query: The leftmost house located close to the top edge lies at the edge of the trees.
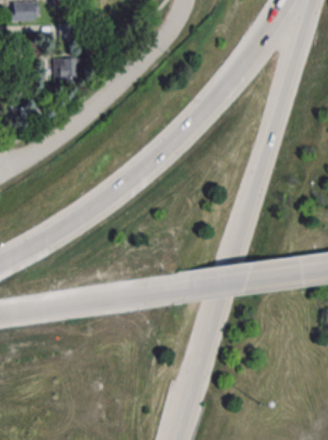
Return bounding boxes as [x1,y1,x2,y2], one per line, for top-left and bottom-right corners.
[13,2,40,22]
